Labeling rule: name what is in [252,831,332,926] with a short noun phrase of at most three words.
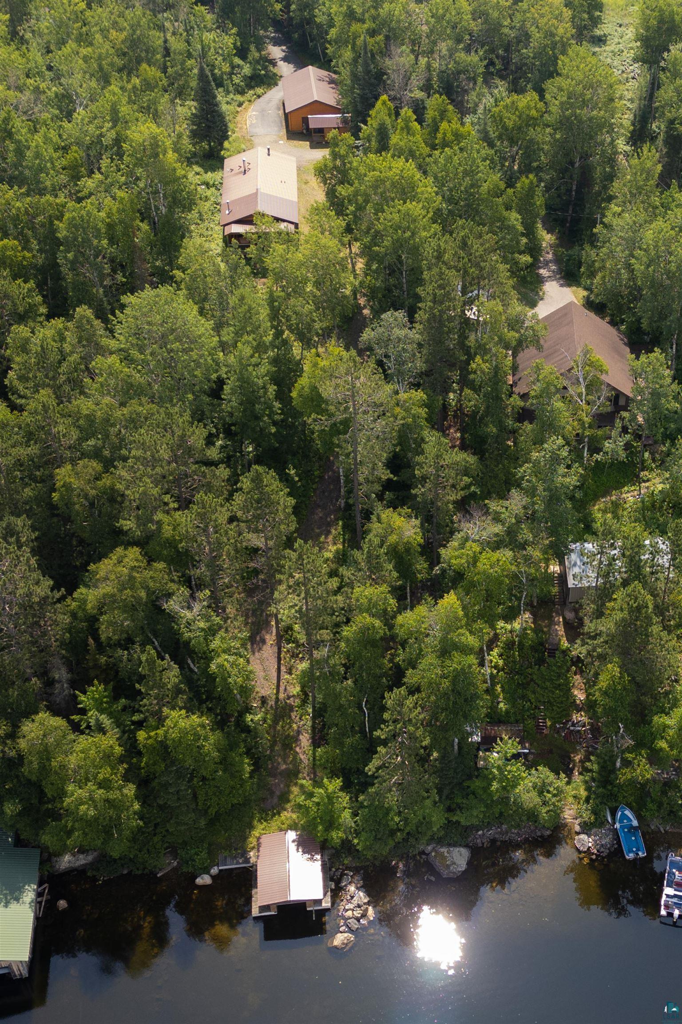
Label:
building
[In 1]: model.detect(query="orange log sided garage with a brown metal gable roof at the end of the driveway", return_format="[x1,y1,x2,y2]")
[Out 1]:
[281,66,351,138]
